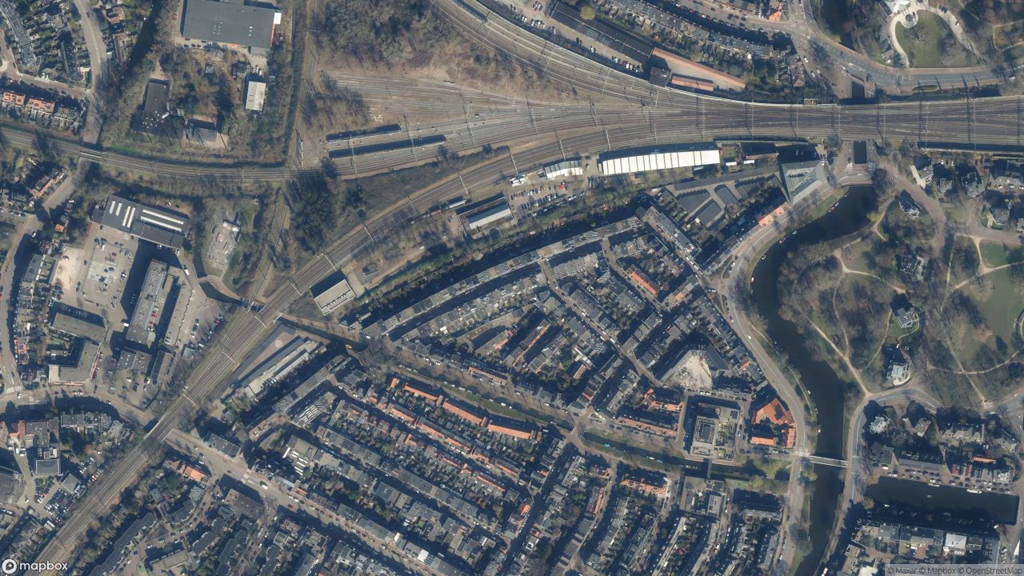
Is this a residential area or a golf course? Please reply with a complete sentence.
This looks like a residential area.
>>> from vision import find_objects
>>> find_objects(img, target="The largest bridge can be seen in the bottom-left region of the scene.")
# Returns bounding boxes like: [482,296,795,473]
[126,405,199,455]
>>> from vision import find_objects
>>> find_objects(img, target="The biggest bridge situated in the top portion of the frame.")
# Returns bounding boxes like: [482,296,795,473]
[831,103,882,143]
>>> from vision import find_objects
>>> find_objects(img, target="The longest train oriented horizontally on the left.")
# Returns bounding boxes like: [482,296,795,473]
[333,139,443,158]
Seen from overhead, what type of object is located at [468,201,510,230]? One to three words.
building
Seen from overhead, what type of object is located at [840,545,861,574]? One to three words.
building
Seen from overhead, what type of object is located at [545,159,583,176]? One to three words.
shed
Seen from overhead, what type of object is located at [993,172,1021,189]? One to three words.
house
